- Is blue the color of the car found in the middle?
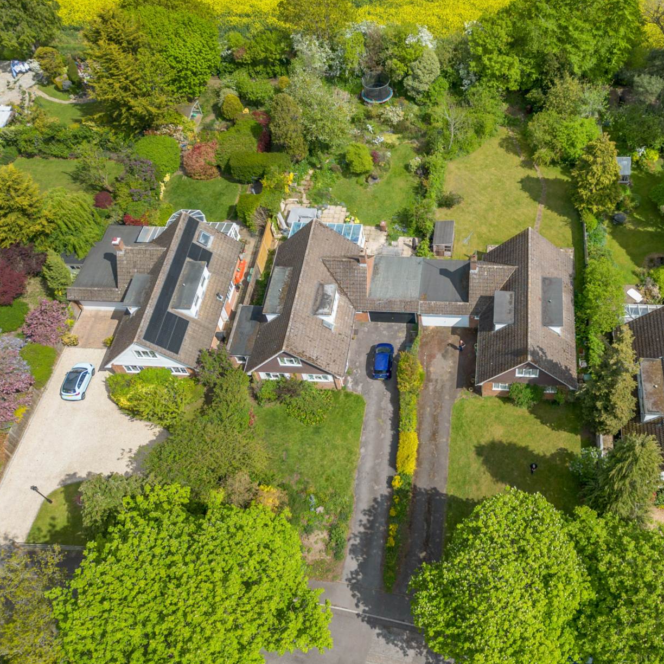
Yes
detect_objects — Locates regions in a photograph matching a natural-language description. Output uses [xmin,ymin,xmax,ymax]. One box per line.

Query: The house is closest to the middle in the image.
[227,218,423,393]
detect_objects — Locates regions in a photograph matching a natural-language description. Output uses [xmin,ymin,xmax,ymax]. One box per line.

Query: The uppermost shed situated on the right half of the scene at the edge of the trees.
[613,156,633,188]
